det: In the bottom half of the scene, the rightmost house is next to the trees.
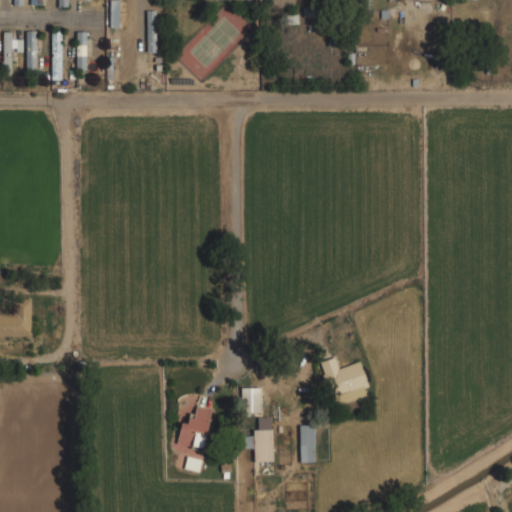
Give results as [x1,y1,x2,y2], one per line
[320,357,371,404]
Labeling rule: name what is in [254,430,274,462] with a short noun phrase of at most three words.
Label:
barn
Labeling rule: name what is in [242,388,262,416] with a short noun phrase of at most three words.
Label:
barn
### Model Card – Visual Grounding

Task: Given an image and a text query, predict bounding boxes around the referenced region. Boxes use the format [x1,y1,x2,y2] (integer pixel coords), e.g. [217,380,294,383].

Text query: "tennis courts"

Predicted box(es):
[179,6,254,82]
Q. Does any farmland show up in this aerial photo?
Yes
